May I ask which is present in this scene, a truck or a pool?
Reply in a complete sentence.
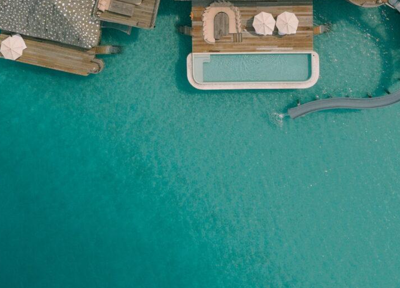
Visible in the photo is a pool.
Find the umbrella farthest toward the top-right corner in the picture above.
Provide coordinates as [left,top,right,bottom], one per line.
[276,11,298,33]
